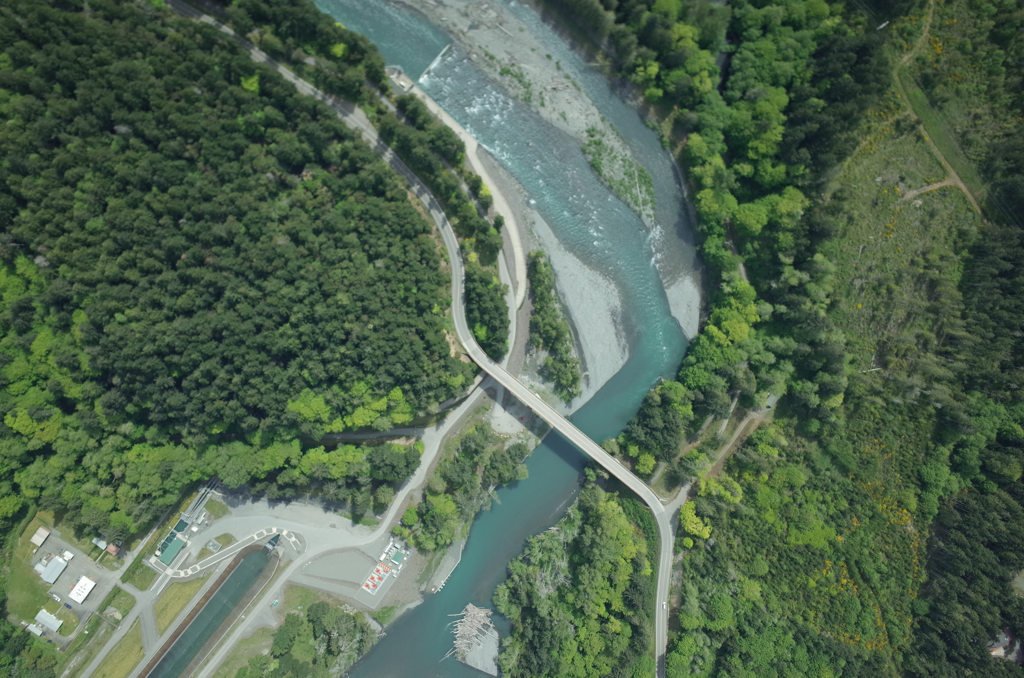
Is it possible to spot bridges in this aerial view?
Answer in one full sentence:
Yes, a bridge can be made out from above.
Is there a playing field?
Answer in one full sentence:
No, no playing field is visible in the view.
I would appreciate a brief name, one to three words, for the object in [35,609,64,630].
house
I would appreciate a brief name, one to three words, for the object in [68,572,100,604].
building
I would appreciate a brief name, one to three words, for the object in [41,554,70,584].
building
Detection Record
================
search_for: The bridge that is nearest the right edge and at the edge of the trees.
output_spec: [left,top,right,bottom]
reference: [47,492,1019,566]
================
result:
[459,333,668,518]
